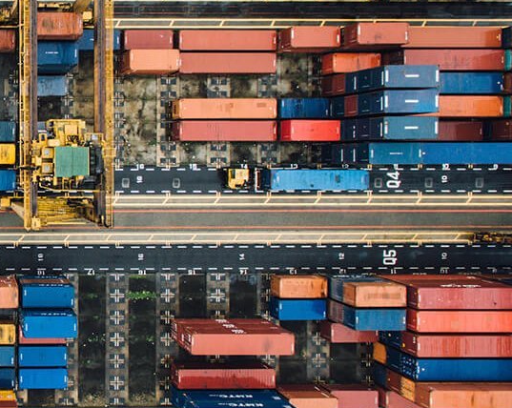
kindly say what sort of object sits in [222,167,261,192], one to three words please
truck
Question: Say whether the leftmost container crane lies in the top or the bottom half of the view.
top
